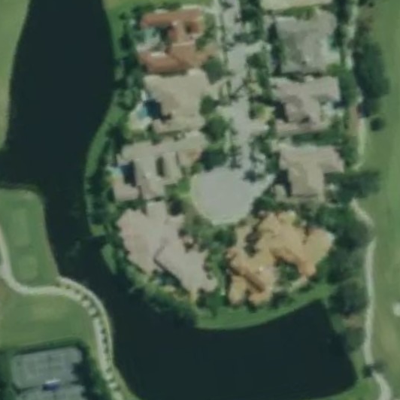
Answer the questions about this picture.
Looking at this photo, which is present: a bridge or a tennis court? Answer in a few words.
tennis court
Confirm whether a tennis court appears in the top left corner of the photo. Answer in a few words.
No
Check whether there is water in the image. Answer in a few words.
Yes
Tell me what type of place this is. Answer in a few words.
residential area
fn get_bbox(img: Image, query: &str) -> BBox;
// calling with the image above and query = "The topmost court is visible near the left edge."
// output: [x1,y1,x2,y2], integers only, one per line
[11,346,85,389]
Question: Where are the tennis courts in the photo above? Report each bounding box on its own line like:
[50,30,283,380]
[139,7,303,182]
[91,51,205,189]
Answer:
[15,382,87,400]
[11,346,85,389]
